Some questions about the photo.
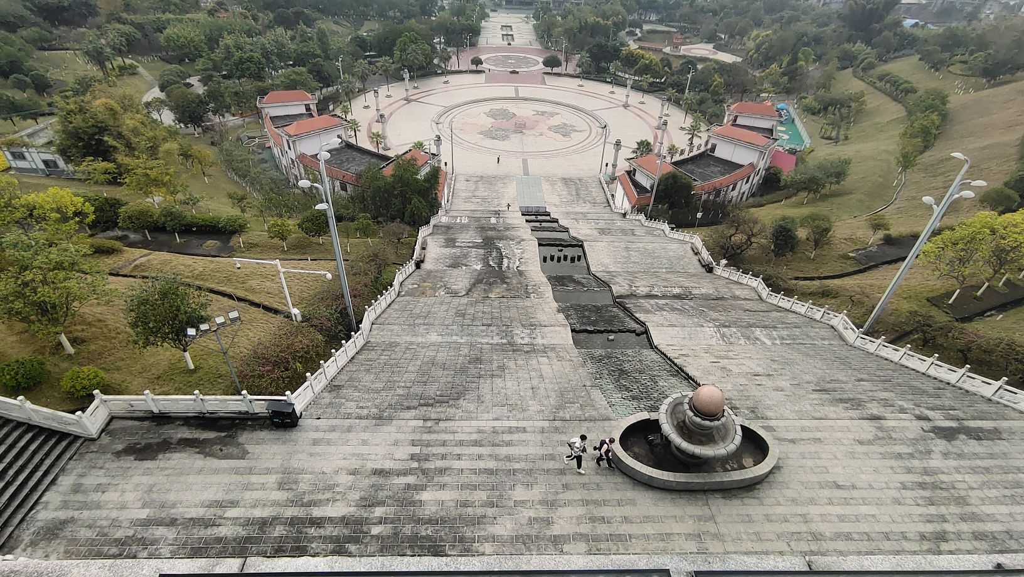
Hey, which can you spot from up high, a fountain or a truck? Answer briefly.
fountain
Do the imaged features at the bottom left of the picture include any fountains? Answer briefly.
No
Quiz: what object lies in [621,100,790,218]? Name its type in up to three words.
building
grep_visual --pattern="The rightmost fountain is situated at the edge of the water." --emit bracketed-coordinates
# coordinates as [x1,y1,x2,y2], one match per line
[611,386,784,491]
